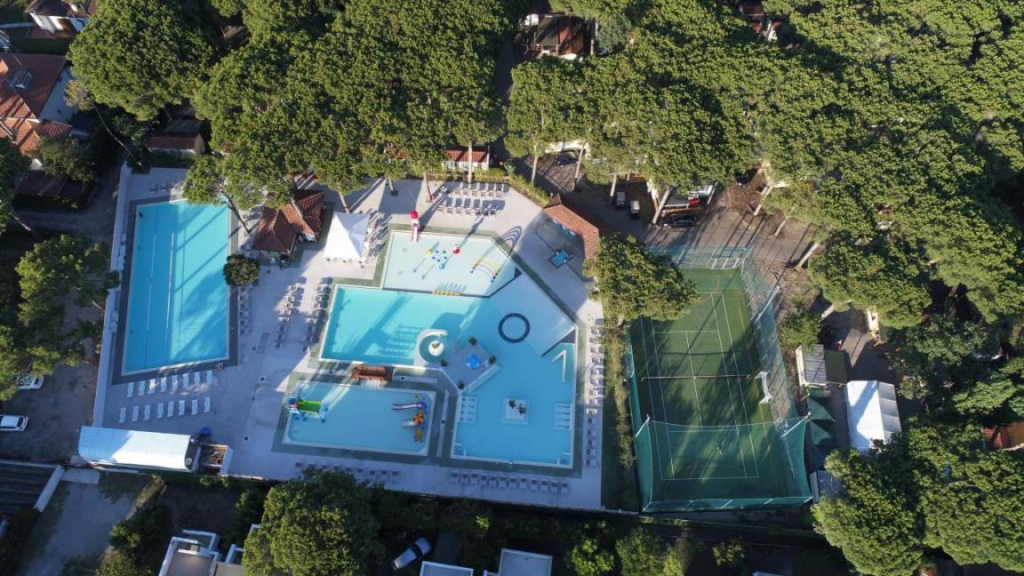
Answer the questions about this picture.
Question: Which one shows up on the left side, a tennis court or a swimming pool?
swimming pool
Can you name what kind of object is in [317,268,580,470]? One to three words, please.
swimming pool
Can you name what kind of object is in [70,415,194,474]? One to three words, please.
building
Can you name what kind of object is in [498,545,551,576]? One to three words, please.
house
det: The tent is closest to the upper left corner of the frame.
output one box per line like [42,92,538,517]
[325,215,372,267]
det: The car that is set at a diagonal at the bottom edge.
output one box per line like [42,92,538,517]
[389,537,432,576]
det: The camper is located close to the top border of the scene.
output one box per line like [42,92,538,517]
[520,9,539,30]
